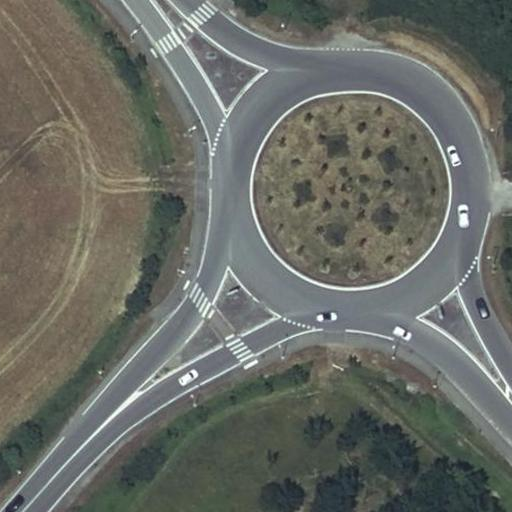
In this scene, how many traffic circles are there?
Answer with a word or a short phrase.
one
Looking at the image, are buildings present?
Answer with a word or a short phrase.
No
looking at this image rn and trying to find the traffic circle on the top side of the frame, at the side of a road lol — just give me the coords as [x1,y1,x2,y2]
[180,48,492,340]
